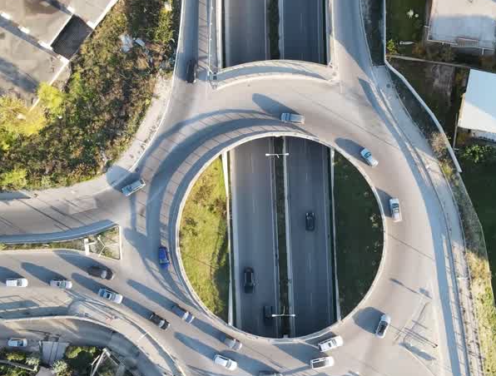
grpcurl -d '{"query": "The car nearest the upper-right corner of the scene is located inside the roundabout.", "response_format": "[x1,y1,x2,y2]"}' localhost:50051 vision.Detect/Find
[359,147,378,166]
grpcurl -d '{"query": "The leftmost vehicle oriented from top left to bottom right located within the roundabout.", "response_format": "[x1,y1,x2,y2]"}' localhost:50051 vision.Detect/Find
[148,310,172,330]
